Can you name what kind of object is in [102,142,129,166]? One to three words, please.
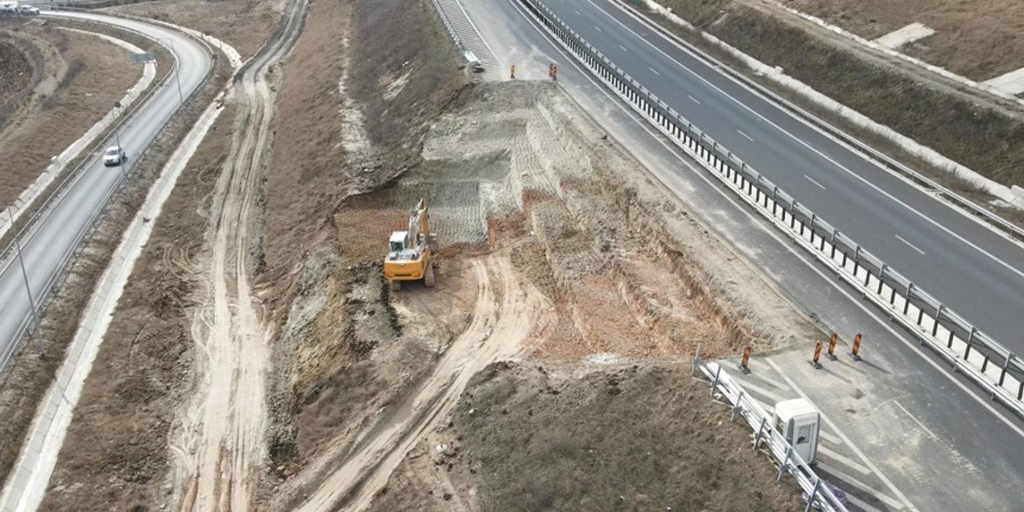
car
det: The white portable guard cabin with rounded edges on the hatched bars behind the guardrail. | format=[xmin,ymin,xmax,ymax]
[776,404,821,467]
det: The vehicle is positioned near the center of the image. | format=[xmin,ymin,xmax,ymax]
[387,193,433,286]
